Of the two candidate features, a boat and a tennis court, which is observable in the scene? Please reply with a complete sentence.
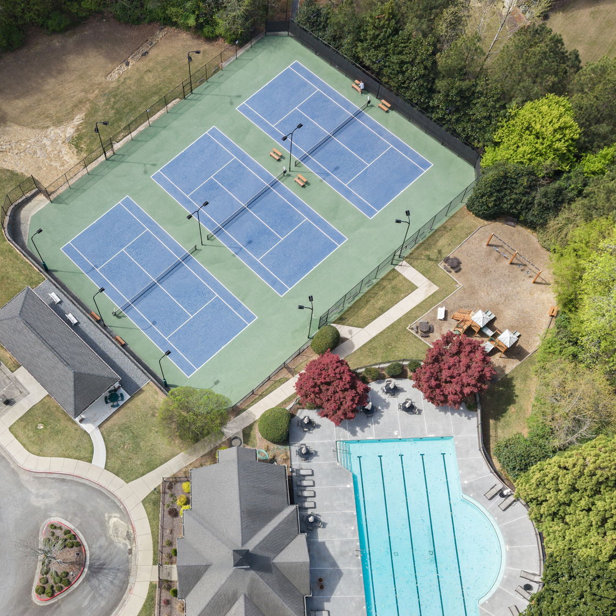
I can see a tennis court in this picture.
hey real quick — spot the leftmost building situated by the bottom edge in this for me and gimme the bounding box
[175,445,312,616]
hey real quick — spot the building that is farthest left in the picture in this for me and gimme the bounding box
[0,288,123,425]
